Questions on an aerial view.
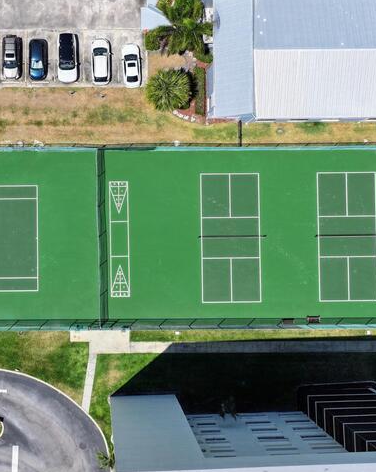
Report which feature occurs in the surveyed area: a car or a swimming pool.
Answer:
car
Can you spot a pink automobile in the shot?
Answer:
No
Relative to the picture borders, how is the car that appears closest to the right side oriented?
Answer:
from top to bottom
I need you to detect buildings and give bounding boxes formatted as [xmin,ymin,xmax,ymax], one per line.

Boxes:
[111,387,376,472]
[251,0,376,125]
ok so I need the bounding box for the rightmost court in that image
[317,172,376,301]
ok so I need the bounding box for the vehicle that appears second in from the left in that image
[26,39,48,82]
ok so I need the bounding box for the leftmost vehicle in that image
[0,36,21,84]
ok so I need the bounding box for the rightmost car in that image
[120,44,141,90]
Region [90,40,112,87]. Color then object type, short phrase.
white car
